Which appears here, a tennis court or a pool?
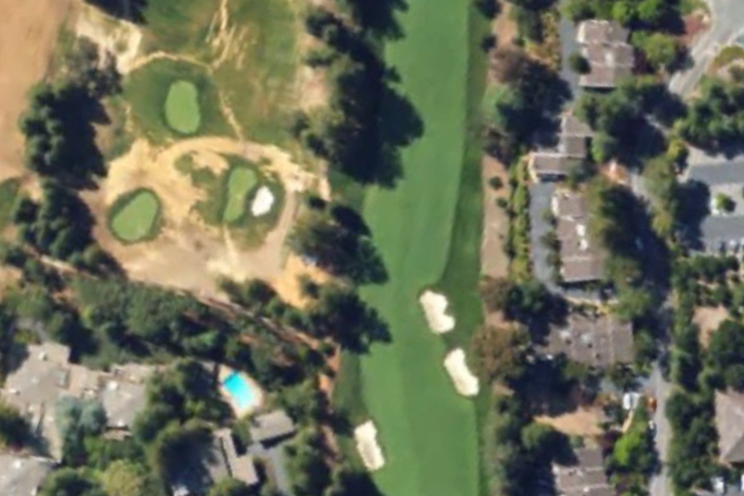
pool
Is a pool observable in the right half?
No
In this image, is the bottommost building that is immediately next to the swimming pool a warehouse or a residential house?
residential house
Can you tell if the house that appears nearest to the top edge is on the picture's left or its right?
right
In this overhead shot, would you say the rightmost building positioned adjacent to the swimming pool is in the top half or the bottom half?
bottom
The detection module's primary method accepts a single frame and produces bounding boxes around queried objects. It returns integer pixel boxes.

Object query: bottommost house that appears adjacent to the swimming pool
[206,429,262,486]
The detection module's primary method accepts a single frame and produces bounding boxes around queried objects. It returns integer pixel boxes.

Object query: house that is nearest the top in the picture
[577,20,633,88]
